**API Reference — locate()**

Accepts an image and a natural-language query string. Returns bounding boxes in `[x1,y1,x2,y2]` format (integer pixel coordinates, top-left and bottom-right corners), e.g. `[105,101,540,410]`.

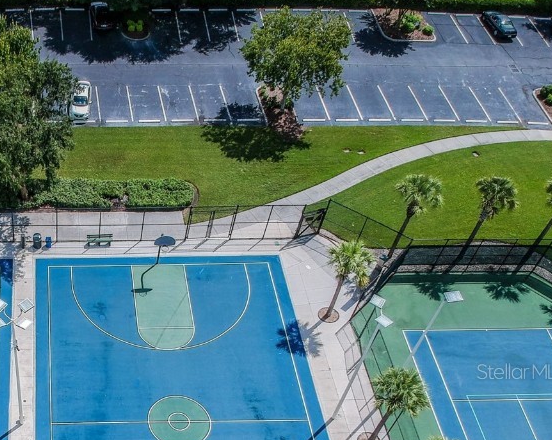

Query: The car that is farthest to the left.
[68,80,94,118]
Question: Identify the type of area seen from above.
sports ground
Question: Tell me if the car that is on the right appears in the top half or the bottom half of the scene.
top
